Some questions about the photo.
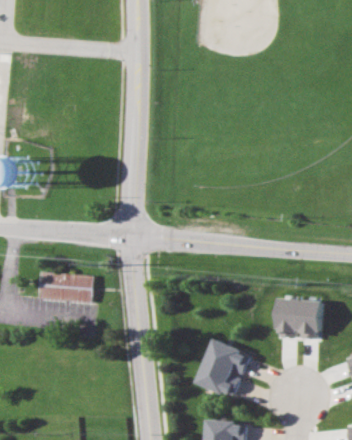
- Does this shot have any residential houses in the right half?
Yes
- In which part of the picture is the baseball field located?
top right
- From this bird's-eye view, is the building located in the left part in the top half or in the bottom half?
bottom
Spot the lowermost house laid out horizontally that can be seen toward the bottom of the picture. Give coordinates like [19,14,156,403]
[202,419,251,440]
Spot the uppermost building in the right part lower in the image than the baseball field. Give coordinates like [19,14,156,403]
[272,298,325,338]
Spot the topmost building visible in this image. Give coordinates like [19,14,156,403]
[36,272,96,306]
